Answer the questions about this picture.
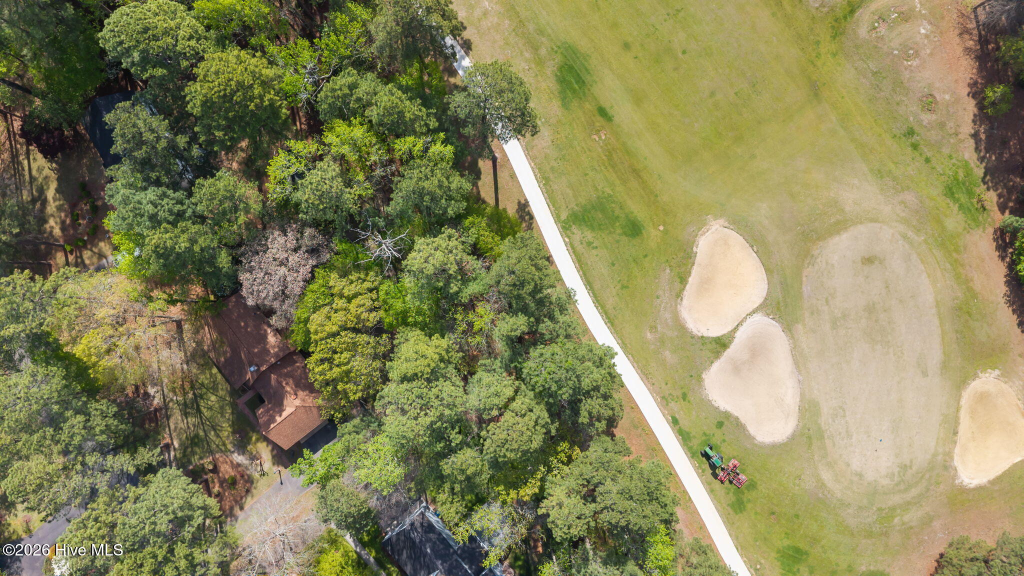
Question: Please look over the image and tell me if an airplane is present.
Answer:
No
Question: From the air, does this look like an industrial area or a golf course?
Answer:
golf course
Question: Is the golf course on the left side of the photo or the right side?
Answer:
right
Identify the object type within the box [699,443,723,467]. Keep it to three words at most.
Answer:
work vehicle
